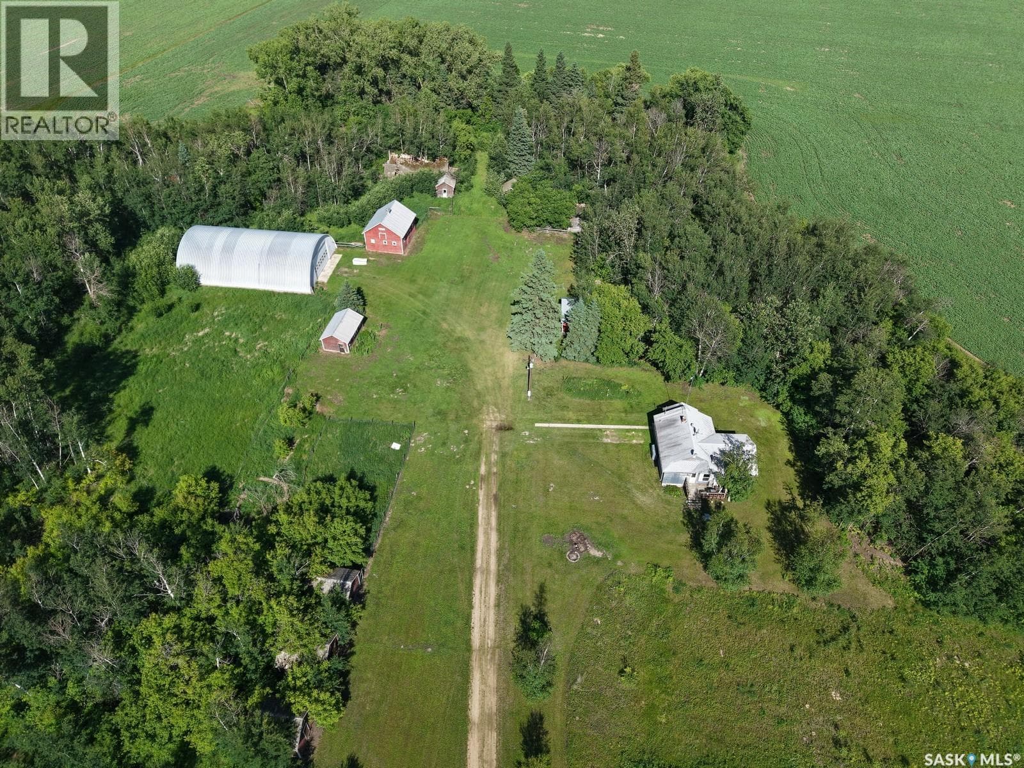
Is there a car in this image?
No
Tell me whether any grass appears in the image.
Yes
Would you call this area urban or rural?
rural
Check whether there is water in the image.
No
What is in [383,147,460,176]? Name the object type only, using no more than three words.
barn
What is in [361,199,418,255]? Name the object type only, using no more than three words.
barn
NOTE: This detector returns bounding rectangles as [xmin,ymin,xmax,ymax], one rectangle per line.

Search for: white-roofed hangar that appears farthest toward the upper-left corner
[171,219,340,294]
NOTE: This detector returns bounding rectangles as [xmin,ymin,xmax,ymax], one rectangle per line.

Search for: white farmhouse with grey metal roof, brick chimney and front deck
[652,401,760,513]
